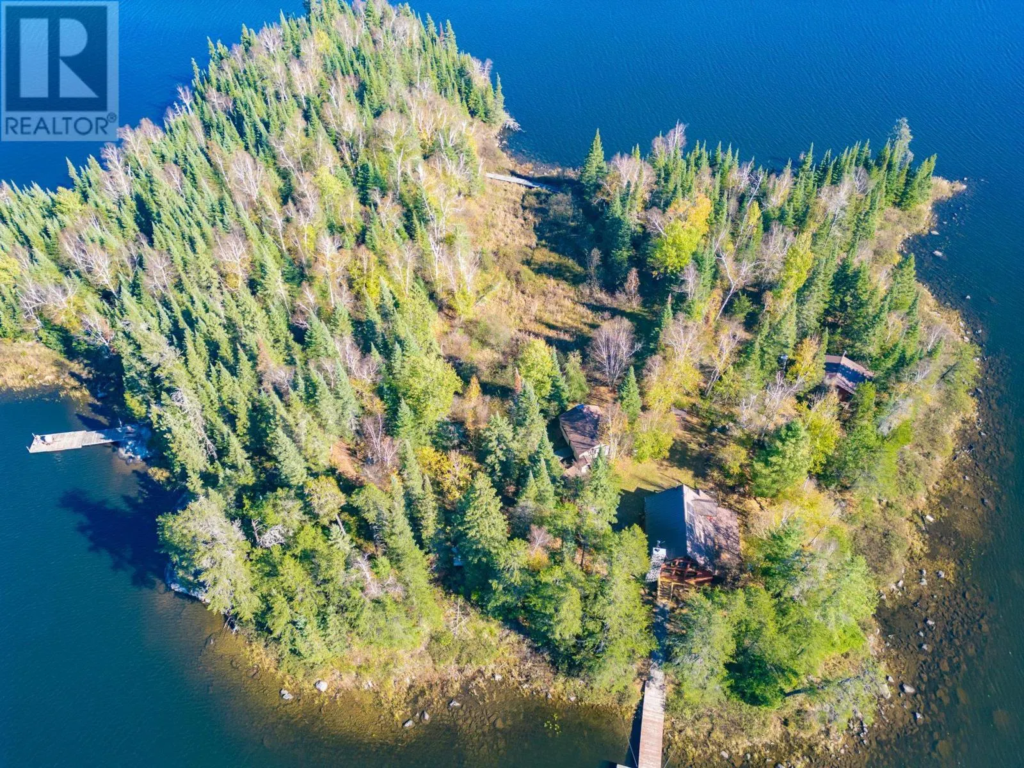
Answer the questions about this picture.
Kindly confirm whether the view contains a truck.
No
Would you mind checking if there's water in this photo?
Yes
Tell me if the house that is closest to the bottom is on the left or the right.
right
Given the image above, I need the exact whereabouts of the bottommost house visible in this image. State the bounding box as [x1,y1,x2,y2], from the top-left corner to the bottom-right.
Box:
[645,482,743,616]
